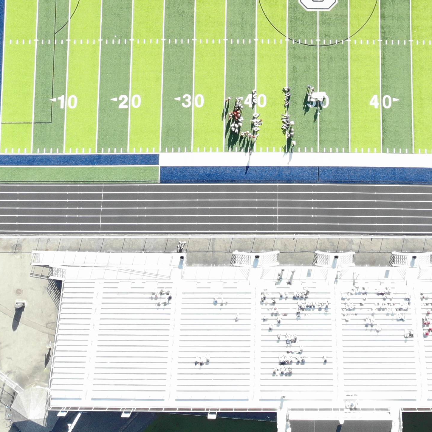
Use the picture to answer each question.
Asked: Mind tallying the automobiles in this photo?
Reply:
0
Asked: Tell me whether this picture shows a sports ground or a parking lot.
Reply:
sports ground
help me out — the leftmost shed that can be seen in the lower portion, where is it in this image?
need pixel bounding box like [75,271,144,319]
[6,382,55,432]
